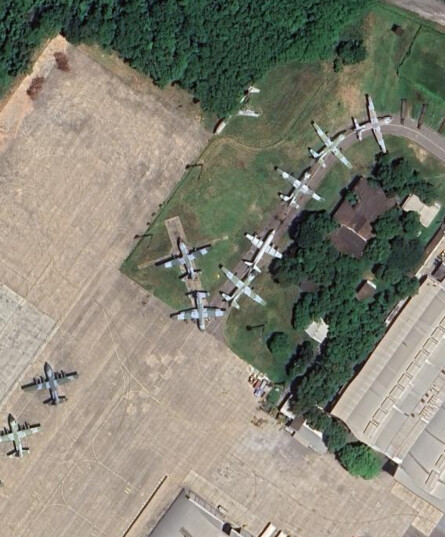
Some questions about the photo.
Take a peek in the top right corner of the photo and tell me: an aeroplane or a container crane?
aeroplane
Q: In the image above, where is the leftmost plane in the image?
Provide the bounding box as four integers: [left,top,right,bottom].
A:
[0,417,42,464]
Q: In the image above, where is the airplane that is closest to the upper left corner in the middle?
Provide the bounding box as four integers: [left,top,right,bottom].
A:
[158,240,211,285]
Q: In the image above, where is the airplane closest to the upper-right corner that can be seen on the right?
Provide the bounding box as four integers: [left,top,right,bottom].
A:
[355,98,392,152]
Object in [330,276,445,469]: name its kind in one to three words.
hangar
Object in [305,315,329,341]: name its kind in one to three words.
building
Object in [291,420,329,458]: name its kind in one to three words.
shed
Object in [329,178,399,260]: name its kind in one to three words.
house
